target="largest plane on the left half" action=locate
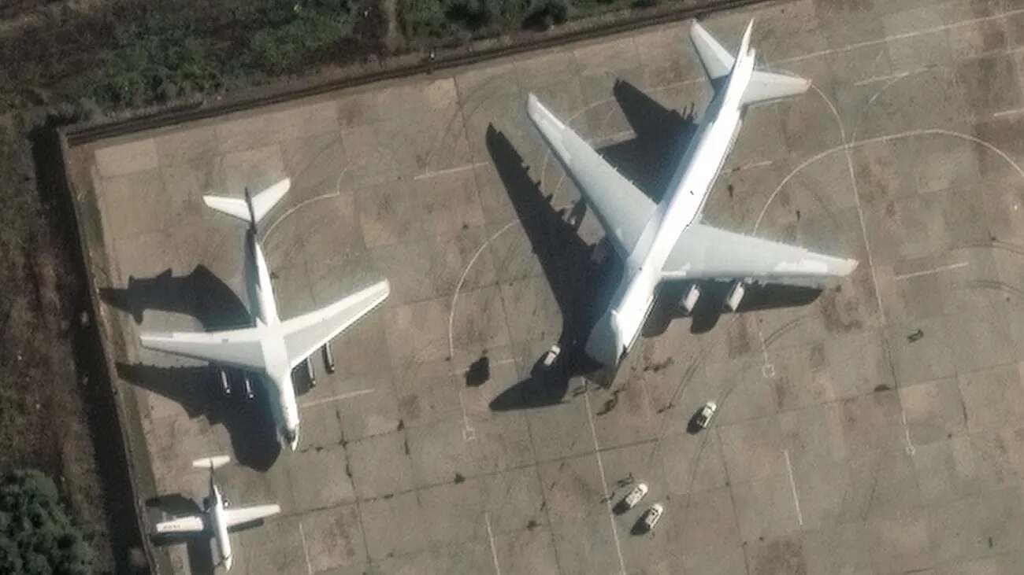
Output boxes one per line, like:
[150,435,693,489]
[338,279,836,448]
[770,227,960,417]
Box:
[141,179,388,451]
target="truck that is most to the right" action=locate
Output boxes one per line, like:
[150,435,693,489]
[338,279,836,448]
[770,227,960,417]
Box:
[694,401,718,433]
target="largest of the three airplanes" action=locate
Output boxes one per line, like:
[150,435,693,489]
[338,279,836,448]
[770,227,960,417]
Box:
[529,20,857,393]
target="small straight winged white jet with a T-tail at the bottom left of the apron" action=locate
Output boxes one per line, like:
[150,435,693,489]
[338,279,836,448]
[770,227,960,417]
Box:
[157,456,280,573]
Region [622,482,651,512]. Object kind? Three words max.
car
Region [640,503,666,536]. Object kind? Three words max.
car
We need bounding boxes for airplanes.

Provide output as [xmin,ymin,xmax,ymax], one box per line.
[529,20,857,393]
[141,179,388,451]
[157,456,280,573]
